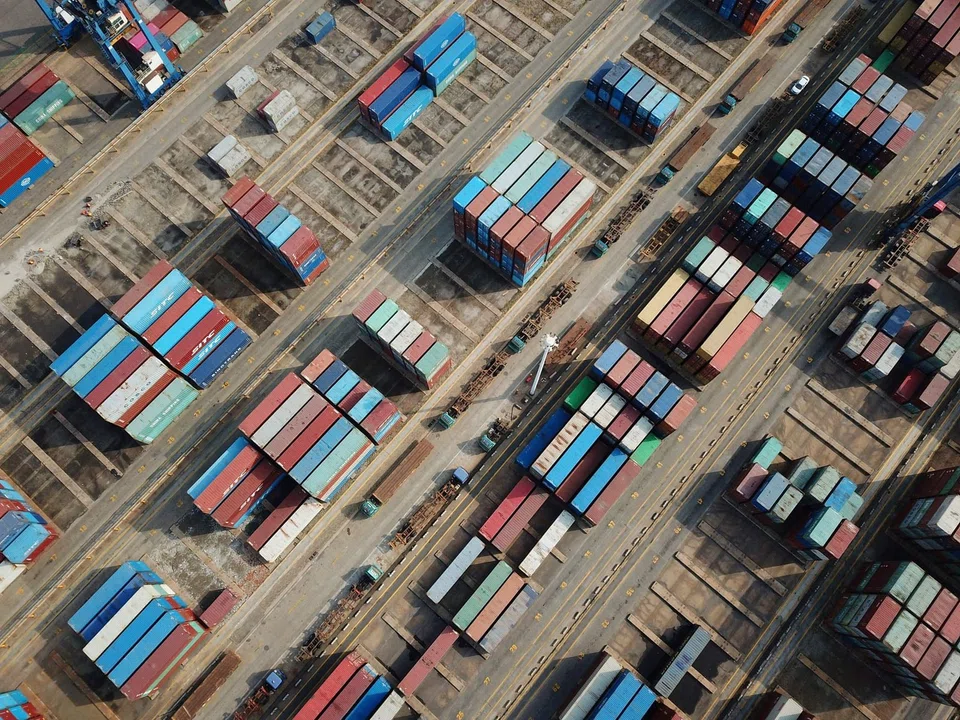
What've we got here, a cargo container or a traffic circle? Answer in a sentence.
I can see a cargo container in this picture.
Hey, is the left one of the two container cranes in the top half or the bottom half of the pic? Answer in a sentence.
The top half of the photo is where the left one of the two container cranes is.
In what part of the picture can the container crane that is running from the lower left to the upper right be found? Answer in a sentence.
The container crane that is running from the lower left to the upper right is in the top right part of the image.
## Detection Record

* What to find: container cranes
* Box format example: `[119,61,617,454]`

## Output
[32,0,185,110]
[884,156,960,236]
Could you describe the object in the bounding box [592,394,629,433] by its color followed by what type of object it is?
white shipping container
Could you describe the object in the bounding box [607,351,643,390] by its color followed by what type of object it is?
pink shipping container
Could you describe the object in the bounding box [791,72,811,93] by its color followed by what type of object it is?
white car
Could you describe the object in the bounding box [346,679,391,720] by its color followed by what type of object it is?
blue shipping container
